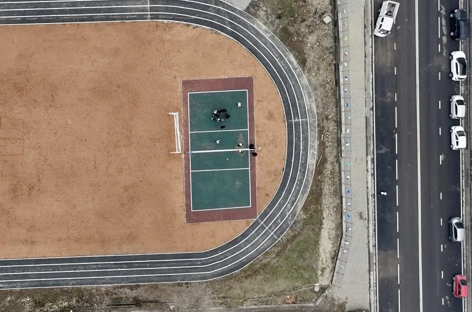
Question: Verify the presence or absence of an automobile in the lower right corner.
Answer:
Yes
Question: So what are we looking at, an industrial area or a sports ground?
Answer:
sports ground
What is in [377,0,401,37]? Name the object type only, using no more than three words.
truck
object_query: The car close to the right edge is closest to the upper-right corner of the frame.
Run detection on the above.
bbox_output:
[451,8,470,39]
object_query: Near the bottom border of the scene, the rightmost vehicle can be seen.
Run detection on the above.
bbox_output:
[454,276,470,299]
